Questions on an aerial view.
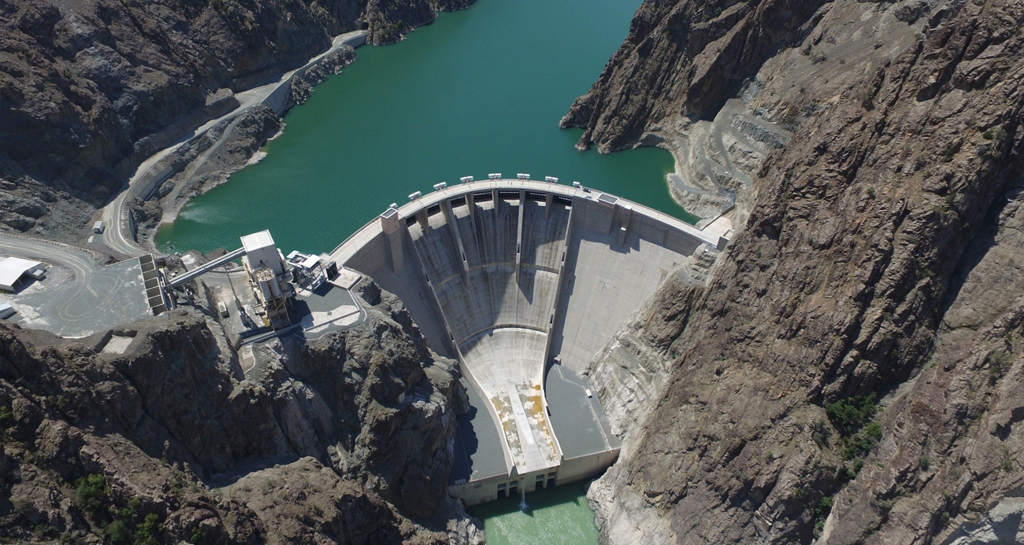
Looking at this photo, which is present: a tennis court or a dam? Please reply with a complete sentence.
Of the two, only a dam appears.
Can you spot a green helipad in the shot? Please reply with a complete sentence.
No, I can't see a single green helipad in this photo.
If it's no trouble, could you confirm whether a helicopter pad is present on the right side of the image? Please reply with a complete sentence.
No, no helicopter pad appears on the right side of the image.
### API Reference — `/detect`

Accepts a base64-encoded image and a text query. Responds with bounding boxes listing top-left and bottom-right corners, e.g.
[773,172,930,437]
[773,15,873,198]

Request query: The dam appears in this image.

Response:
[318,178,736,477]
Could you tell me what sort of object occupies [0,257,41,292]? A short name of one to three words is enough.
building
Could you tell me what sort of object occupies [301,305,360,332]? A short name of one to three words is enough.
helipad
